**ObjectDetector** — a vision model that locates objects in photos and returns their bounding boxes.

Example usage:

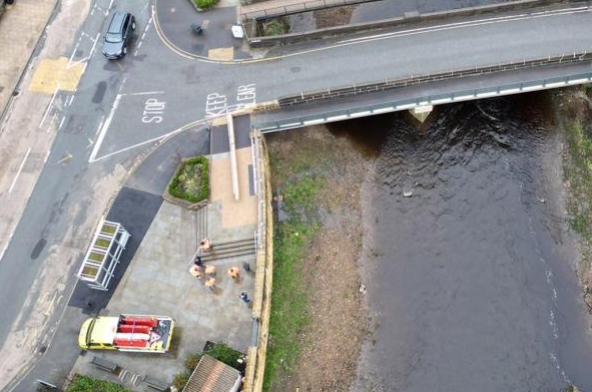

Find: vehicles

[71,309,172,355]
[97,7,138,59]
